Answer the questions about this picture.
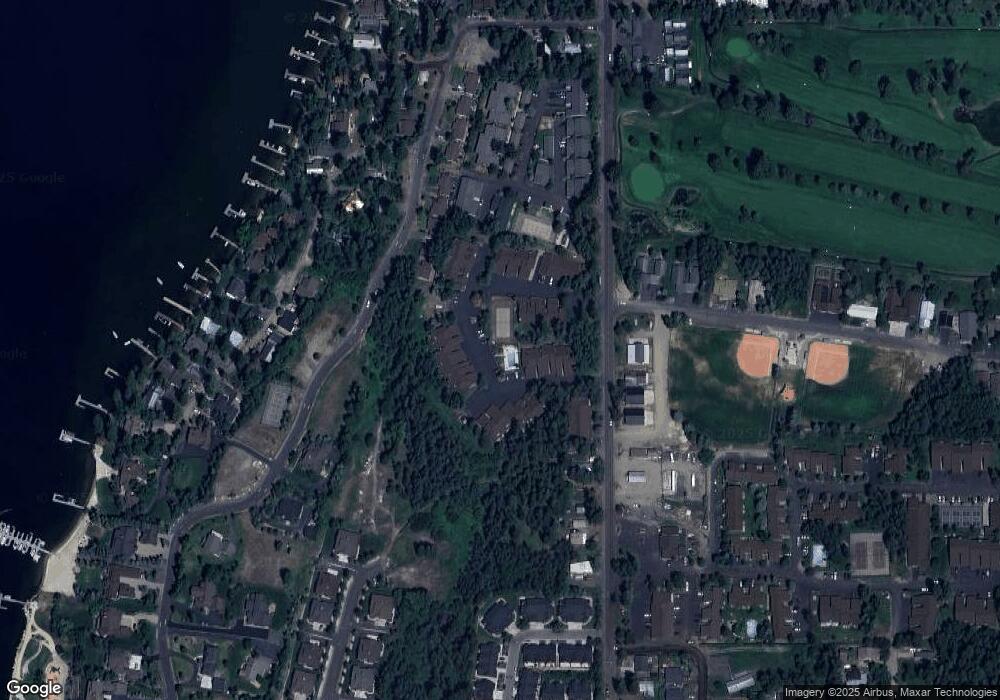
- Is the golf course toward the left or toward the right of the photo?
right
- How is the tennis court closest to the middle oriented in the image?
from top to bottom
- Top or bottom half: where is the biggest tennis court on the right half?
bottom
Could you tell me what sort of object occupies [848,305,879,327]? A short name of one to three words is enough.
shed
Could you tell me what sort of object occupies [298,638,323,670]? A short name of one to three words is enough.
house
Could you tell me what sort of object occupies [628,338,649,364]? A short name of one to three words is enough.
building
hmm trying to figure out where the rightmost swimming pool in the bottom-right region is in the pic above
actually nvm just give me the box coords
[812,542,828,568]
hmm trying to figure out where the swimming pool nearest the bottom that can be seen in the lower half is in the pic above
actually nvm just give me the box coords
[745,618,759,640]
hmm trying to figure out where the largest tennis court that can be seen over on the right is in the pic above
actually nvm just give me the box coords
[850,533,890,575]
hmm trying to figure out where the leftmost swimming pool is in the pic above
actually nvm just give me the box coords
[503,344,519,371]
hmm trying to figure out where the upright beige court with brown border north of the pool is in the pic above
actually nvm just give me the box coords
[492,297,515,341]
